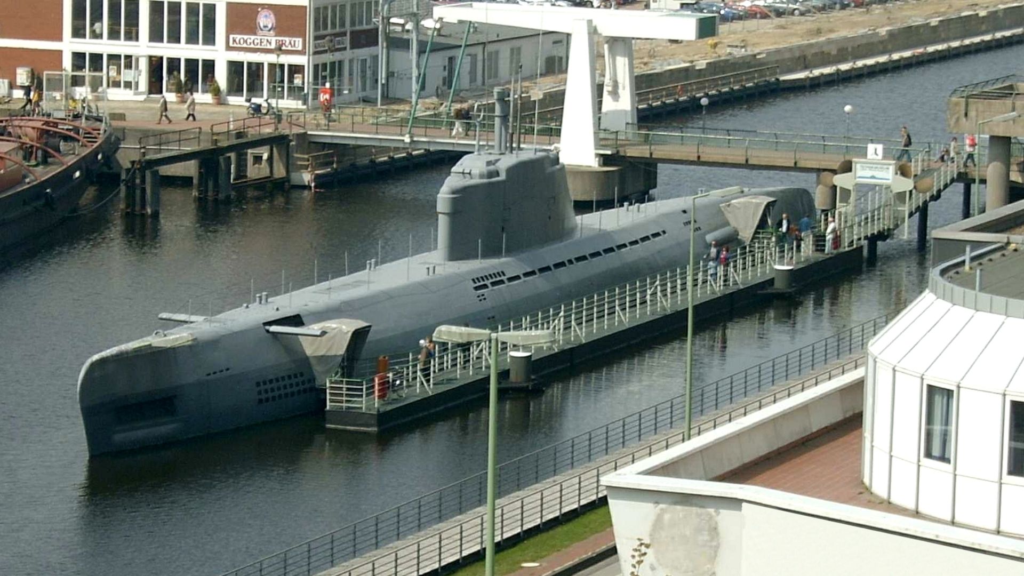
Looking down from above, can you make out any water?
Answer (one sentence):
Yes, some water is visible.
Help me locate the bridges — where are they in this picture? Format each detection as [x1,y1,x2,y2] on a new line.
[301,0,1024,221]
